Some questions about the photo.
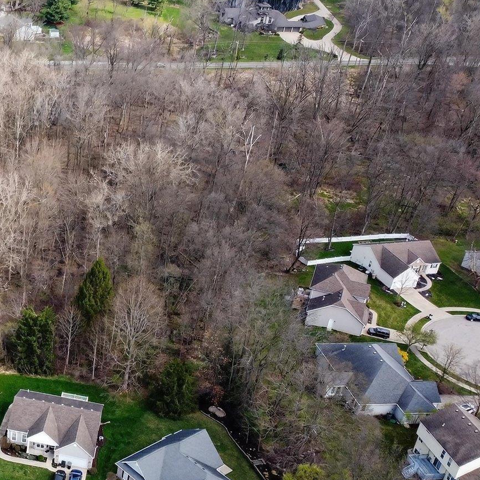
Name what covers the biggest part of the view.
trees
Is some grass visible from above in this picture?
Yes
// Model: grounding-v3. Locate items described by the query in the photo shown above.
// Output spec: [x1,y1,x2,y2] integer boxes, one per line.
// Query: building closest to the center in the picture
[304,263,375,336]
